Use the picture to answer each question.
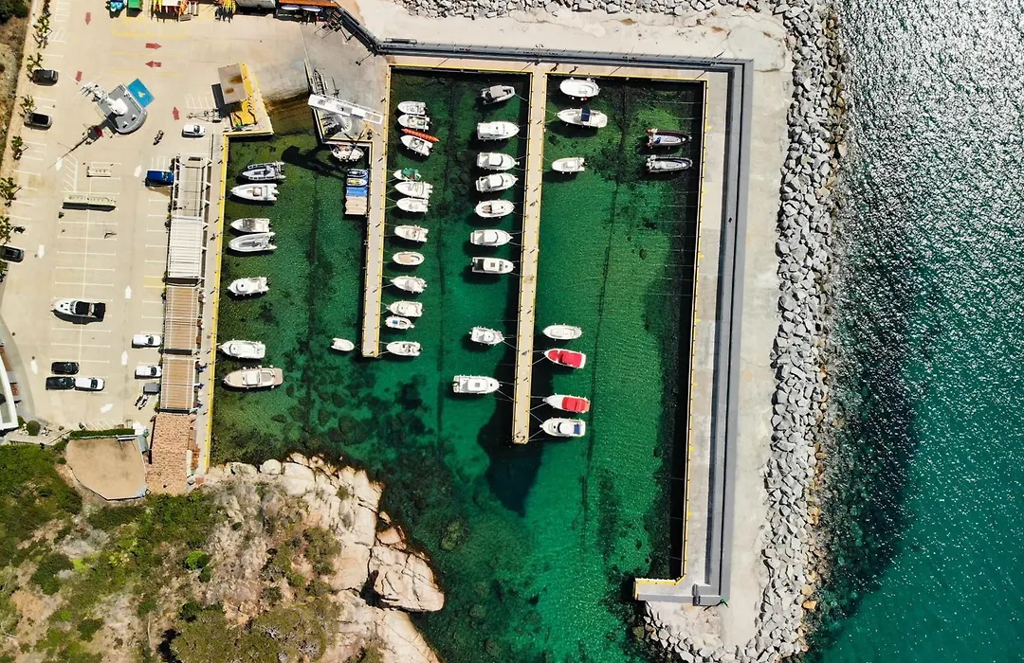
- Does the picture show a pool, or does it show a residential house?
residential house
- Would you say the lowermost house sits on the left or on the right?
left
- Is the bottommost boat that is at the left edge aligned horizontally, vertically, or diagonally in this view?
horizontally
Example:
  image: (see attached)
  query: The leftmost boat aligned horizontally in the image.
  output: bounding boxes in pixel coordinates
[51,298,107,320]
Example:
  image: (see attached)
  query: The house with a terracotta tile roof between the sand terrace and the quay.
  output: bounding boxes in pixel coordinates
[147,414,195,494]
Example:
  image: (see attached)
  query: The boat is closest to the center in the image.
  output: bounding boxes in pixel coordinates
[465,325,519,348]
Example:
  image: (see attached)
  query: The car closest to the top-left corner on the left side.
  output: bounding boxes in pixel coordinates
[26,67,57,85]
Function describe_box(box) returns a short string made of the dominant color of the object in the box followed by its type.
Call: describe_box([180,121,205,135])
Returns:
white car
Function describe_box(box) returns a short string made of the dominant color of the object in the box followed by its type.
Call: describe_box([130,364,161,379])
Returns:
white vehicle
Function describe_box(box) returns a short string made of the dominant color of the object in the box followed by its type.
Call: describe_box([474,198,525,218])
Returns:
white boat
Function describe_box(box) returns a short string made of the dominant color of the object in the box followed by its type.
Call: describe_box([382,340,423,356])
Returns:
white boat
